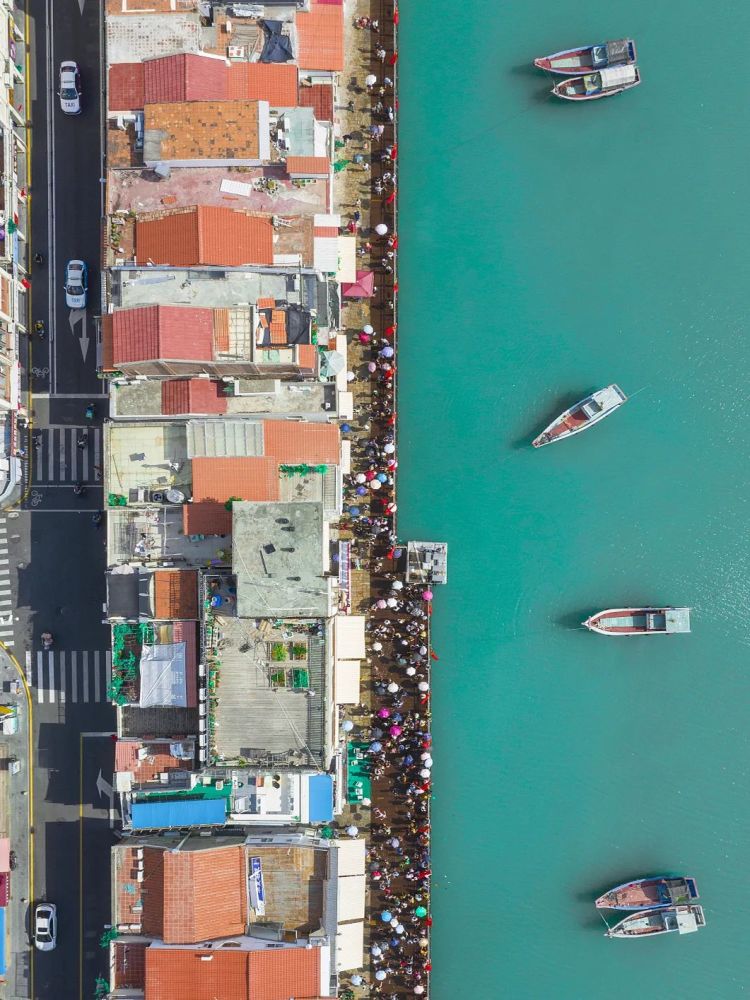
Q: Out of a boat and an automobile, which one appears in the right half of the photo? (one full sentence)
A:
The one visible in the right half of the photo is a boat.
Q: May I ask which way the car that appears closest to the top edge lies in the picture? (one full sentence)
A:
In this picture, the car that appears closest to the top edge is oriented vertically.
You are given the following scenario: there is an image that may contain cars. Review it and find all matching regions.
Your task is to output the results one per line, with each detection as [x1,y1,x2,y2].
[63,260,91,311]
[32,898,61,949]
[58,62,85,117]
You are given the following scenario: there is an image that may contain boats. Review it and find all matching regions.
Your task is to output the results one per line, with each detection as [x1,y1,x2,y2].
[580,604,691,635]
[602,899,705,939]
[530,383,629,446]
[531,38,637,81]
[550,63,642,106]
[593,869,698,909]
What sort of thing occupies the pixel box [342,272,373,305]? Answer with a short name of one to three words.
tent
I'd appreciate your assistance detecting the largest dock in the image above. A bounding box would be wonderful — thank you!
[406,541,448,585]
